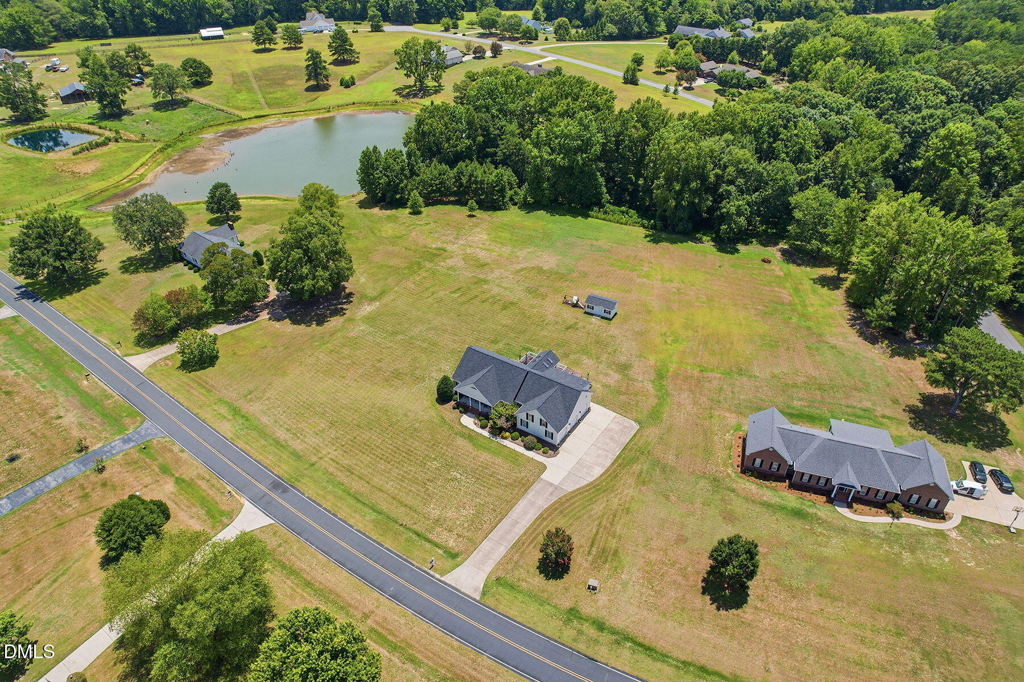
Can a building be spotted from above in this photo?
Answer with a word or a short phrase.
Yes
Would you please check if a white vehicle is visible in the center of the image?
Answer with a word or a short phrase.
No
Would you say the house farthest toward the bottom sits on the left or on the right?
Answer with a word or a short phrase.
right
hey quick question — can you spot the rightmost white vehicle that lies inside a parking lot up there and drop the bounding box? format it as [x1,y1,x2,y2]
[953,474,999,496]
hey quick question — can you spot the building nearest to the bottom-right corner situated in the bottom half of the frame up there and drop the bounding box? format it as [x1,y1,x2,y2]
[745,407,955,512]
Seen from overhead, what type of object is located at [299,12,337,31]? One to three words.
house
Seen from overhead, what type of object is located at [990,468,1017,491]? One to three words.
car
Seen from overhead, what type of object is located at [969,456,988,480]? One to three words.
car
